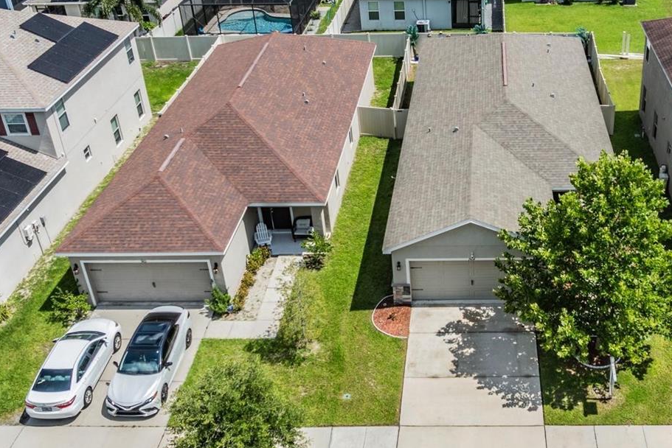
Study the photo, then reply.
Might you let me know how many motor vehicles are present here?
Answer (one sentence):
I count 2 motor vehicles.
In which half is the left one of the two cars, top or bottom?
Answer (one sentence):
The left one of the two cars is in the bottom half of the image.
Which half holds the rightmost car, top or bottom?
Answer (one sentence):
Seen from above, the rightmost car lies in the bottom half of the view.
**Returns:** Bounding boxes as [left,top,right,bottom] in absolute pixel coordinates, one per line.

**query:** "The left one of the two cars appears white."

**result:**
[18,319,116,418]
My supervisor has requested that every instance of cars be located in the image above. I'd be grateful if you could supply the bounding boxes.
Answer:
[18,319,116,418]
[99,311,184,418]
